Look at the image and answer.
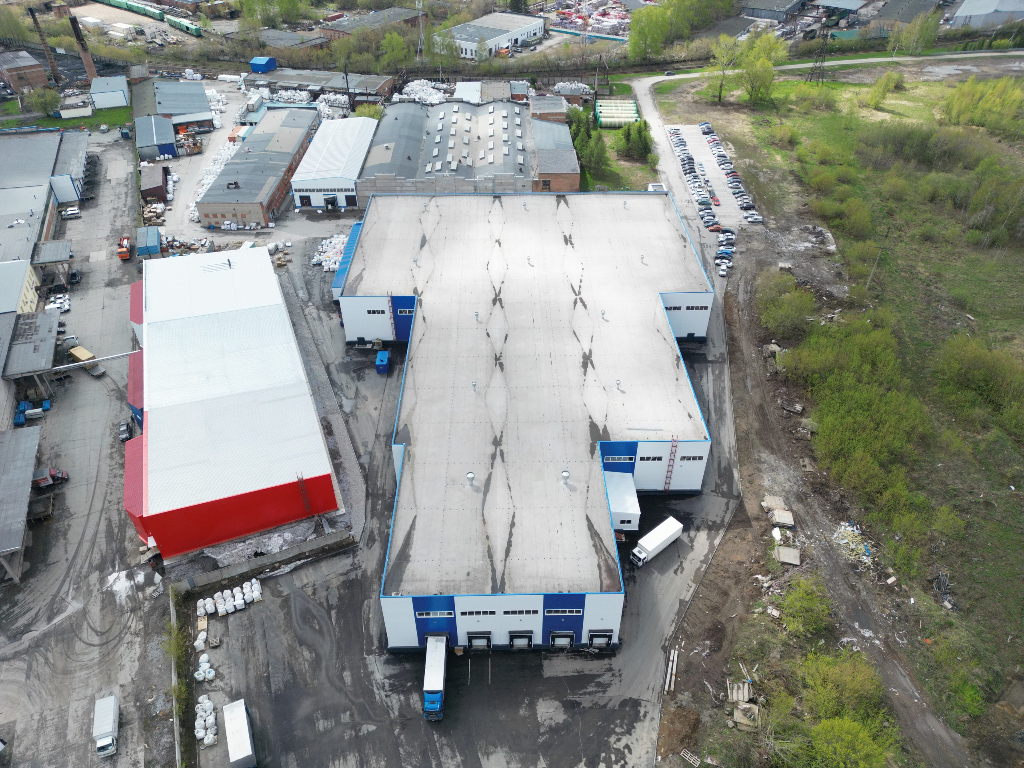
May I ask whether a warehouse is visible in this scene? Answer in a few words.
Yes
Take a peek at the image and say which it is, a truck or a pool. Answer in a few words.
truck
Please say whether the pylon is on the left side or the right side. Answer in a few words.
right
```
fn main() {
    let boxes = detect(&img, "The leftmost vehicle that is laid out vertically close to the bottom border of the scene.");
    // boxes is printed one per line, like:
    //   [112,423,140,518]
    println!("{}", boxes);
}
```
[93,695,120,762]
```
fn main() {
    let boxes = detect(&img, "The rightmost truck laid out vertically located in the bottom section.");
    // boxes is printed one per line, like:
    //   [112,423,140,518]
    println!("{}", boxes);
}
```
[420,640,447,724]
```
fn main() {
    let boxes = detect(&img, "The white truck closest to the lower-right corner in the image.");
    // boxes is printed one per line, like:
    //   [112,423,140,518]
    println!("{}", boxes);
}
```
[627,516,684,572]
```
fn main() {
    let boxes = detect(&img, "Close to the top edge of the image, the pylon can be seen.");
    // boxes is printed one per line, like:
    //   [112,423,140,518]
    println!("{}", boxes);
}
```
[809,25,830,84]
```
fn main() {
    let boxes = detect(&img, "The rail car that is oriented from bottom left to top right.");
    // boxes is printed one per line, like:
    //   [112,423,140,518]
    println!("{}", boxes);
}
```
[825,11,851,29]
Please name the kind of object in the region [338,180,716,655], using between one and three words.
warehouse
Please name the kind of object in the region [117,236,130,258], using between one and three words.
vehicle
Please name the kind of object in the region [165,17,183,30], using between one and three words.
rail car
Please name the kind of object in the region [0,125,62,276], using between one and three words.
building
